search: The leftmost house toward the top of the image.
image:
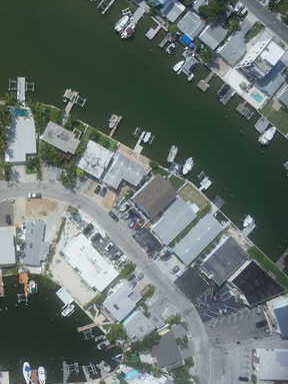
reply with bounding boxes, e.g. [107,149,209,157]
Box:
[2,117,37,162]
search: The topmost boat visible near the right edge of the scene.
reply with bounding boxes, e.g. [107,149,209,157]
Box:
[260,128,274,145]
